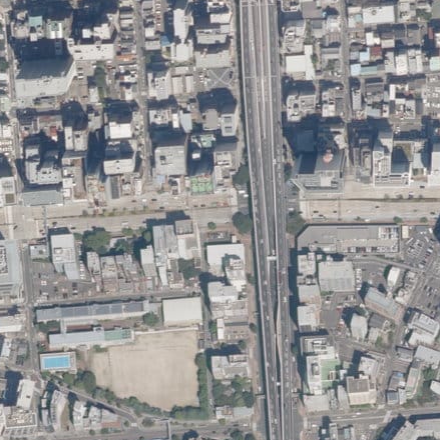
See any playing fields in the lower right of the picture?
No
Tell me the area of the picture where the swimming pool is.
bottom left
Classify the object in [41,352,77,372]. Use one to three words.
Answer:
swimming pool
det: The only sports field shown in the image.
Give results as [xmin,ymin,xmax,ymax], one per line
[89,329,199,409]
